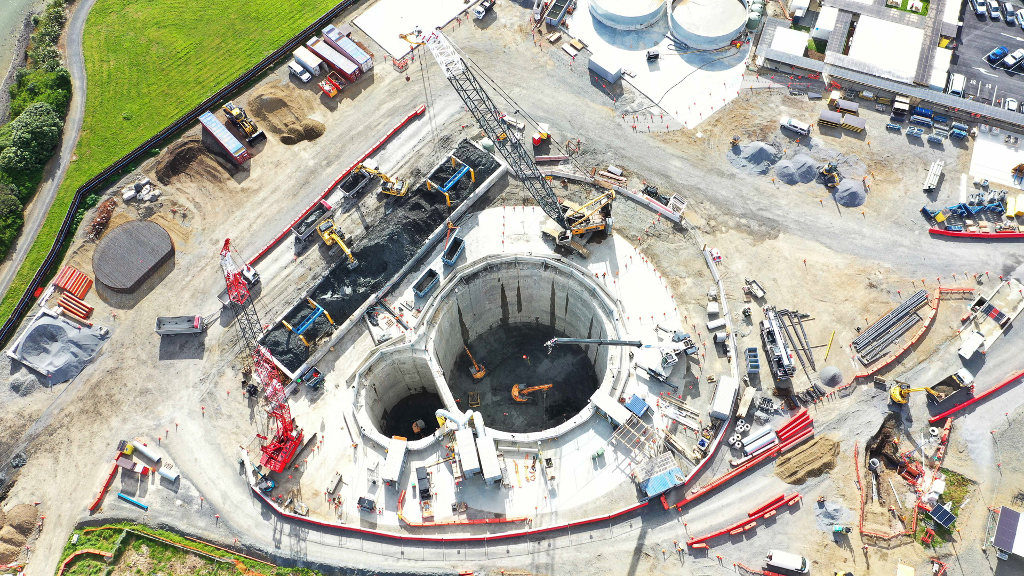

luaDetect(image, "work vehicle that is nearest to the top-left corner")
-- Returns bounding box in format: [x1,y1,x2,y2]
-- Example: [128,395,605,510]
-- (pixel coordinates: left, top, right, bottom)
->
[224,103,261,143]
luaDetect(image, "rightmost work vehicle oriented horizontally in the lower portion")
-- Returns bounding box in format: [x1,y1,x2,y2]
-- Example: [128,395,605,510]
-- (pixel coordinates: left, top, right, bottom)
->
[883,381,960,415]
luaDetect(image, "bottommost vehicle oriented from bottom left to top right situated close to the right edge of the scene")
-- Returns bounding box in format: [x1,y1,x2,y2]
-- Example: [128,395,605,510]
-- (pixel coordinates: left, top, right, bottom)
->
[926,370,981,417]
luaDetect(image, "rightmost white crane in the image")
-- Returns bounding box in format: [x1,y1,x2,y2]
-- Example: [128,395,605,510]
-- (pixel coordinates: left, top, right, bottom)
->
[760,292,804,378]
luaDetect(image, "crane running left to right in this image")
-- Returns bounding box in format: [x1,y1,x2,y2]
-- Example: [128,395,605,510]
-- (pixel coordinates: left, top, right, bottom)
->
[542,327,698,394]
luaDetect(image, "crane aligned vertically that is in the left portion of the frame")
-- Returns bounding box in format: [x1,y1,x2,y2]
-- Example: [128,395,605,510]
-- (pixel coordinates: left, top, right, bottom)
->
[216,232,324,481]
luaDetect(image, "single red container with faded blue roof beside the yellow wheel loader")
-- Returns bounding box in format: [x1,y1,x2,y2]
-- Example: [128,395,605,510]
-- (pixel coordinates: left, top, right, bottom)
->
[198,111,251,165]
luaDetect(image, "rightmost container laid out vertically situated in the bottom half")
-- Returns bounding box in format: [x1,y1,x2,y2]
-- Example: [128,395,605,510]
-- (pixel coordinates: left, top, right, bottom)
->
[709,374,737,421]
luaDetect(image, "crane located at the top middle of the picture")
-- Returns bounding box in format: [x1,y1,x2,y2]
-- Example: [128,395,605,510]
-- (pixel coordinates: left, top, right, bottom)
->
[392,30,617,262]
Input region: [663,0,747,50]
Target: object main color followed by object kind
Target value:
white water tank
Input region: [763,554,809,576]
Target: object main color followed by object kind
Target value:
white vehicle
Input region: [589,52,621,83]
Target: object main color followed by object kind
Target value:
white shipping container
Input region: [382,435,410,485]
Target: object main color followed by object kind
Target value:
white shipping container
